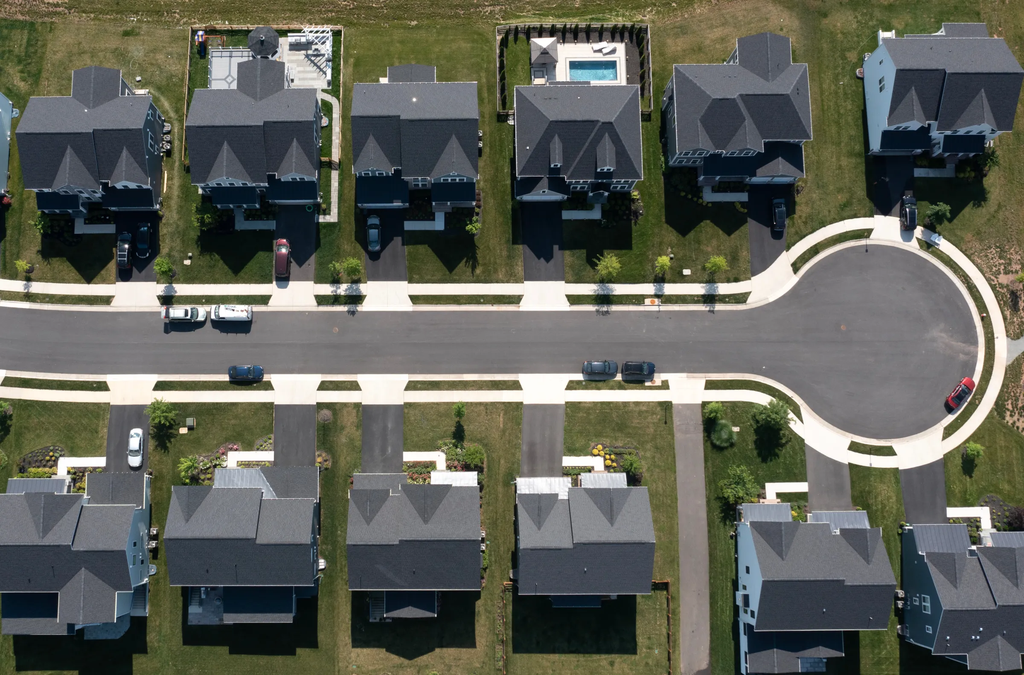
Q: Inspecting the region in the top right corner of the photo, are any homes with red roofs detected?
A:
No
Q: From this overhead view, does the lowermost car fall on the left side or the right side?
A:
left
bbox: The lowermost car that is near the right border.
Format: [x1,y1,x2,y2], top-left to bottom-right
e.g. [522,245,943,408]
[944,375,974,409]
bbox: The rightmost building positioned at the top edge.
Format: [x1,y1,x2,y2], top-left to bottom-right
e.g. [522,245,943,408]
[860,22,1024,160]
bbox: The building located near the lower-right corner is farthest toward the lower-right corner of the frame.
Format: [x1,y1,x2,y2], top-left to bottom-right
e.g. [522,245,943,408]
[900,524,1024,673]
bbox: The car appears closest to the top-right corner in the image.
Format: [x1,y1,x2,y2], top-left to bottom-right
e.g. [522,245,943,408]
[898,196,920,232]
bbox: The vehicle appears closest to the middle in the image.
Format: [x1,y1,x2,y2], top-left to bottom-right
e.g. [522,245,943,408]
[581,359,618,376]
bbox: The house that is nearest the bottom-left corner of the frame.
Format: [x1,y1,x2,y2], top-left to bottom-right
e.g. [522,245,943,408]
[0,473,152,636]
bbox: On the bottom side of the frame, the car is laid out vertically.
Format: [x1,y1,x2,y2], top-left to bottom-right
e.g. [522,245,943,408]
[126,428,146,467]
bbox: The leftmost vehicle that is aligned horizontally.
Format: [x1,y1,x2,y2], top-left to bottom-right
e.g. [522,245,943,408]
[160,305,207,323]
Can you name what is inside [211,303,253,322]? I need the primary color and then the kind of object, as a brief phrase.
white vehicle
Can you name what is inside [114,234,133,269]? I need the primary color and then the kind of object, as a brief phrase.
black car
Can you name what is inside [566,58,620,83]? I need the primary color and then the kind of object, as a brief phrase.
blue swimming pool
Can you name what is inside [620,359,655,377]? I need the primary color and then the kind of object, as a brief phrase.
black car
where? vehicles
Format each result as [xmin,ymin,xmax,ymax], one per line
[134,223,153,258]
[126,428,146,467]
[581,359,618,376]
[620,359,655,377]
[365,216,382,252]
[211,303,253,322]
[273,240,292,278]
[160,305,207,323]
[114,234,133,269]
[898,196,920,232]
[769,198,788,231]
[228,363,265,381]
[944,375,974,409]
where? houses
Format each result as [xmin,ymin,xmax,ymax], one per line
[16,66,166,216]
[514,78,644,207]
[515,473,656,608]
[900,524,1024,673]
[347,471,481,622]
[0,473,152,636]
[164,467,320,623]
[860,22,1024,160]
[732,503,897,675]
[659,33,813,183]
[185,58,322,211]
[349,62,479,209]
